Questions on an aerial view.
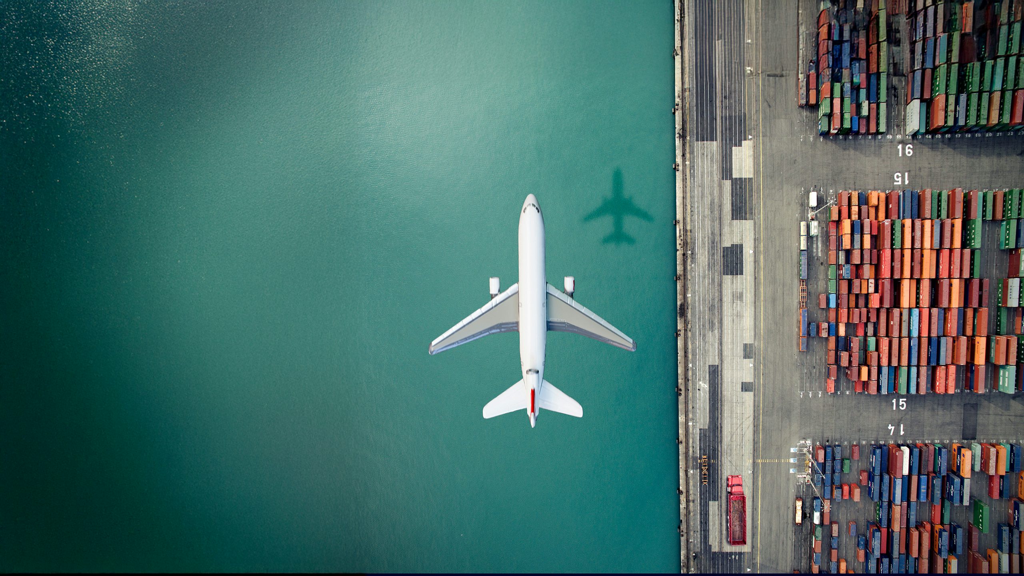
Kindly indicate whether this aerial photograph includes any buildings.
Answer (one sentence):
No, the scene contains no building.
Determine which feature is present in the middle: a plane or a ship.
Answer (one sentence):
The feature located in the middle is a plane.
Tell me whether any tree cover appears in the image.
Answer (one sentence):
No, there's no tree cover in this view.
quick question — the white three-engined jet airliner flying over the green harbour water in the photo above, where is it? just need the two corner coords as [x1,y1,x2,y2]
[426,191,633,431]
